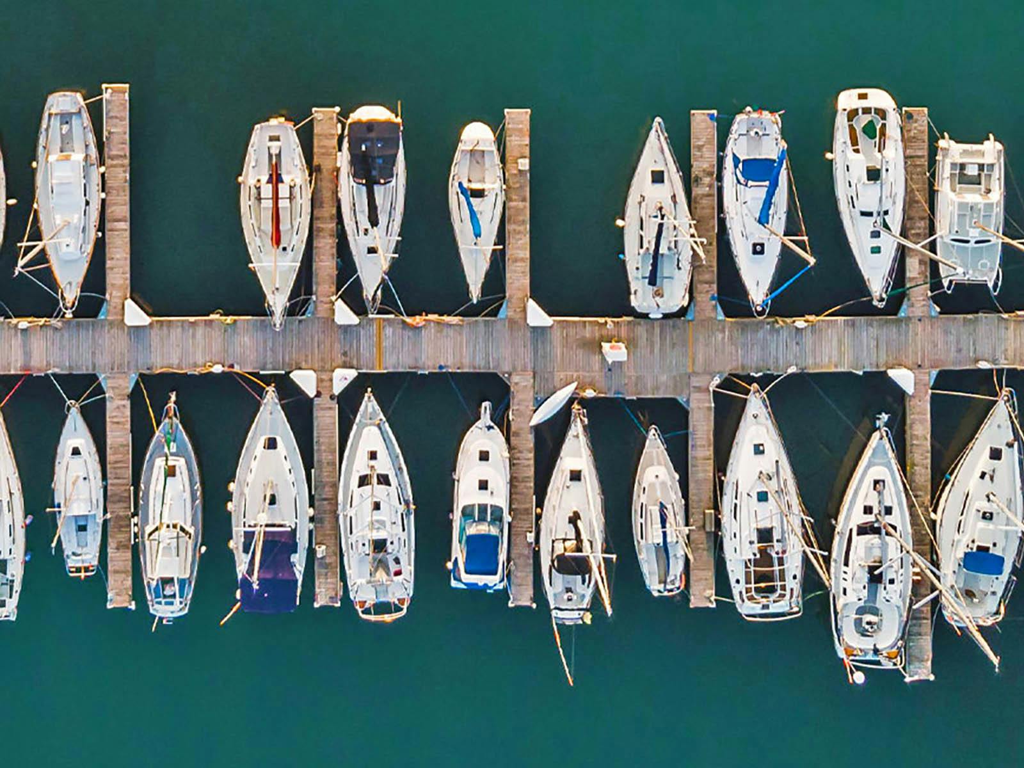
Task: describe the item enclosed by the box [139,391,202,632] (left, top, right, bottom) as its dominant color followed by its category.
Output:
white boat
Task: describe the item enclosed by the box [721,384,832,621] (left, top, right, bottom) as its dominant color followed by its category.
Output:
white boat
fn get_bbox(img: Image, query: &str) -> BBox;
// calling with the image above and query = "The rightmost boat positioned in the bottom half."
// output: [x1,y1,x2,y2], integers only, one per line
[936,398,1024,635]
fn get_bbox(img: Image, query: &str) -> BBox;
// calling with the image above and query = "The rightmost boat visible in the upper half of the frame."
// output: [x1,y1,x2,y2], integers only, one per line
[931,134,1024,294]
